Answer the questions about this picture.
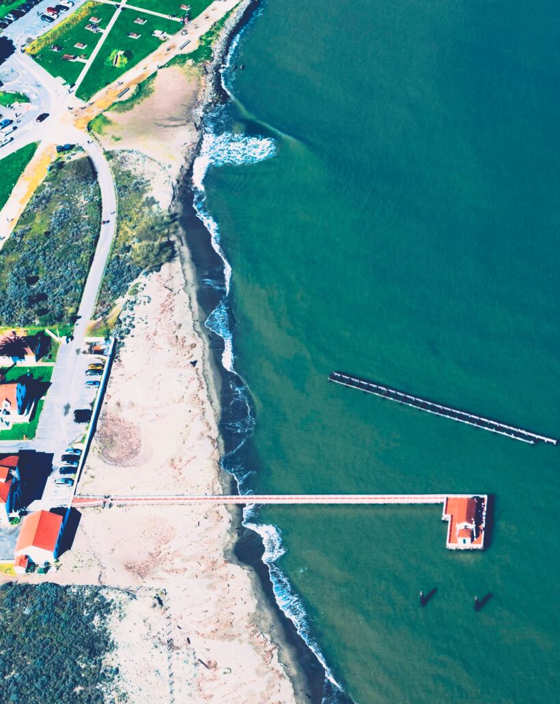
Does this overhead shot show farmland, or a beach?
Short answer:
beach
